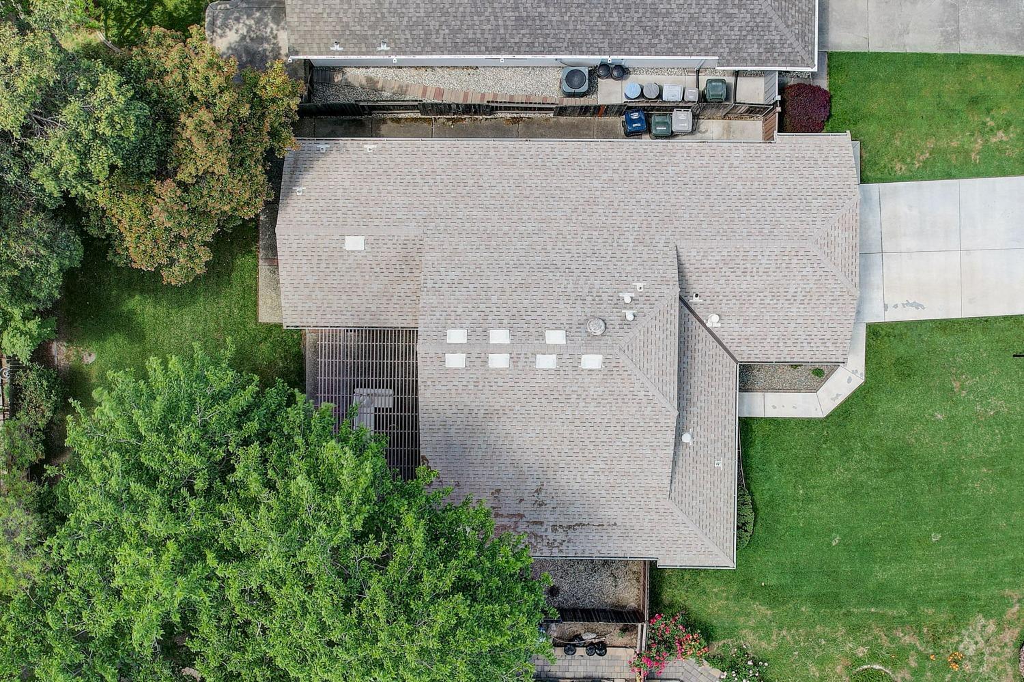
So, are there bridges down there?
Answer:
No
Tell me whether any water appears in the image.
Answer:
No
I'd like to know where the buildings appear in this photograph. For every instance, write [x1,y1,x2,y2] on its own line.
[282,0,820,73]
[274,128,860,571]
